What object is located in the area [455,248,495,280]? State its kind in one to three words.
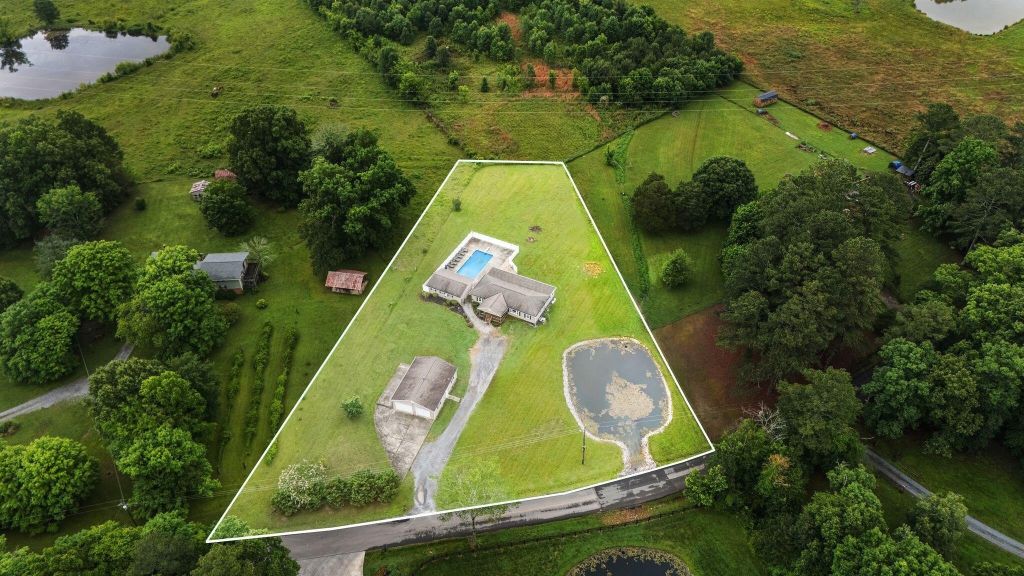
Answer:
swimming pool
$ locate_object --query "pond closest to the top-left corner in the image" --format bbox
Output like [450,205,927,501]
[0,27,169,98]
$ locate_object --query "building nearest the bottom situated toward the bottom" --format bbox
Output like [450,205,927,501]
[390,356,458,419]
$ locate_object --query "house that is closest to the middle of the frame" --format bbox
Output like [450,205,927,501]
[425,267,557,327]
